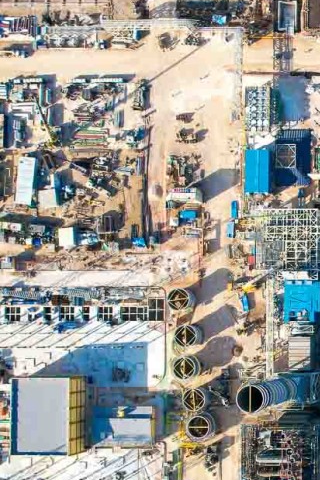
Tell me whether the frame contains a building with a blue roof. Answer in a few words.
Yes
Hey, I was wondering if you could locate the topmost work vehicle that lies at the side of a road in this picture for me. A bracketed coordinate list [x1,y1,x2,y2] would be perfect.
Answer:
[134,65,146,89]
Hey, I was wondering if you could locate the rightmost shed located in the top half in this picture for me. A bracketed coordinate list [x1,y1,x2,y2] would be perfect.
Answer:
[272,129,313,188]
